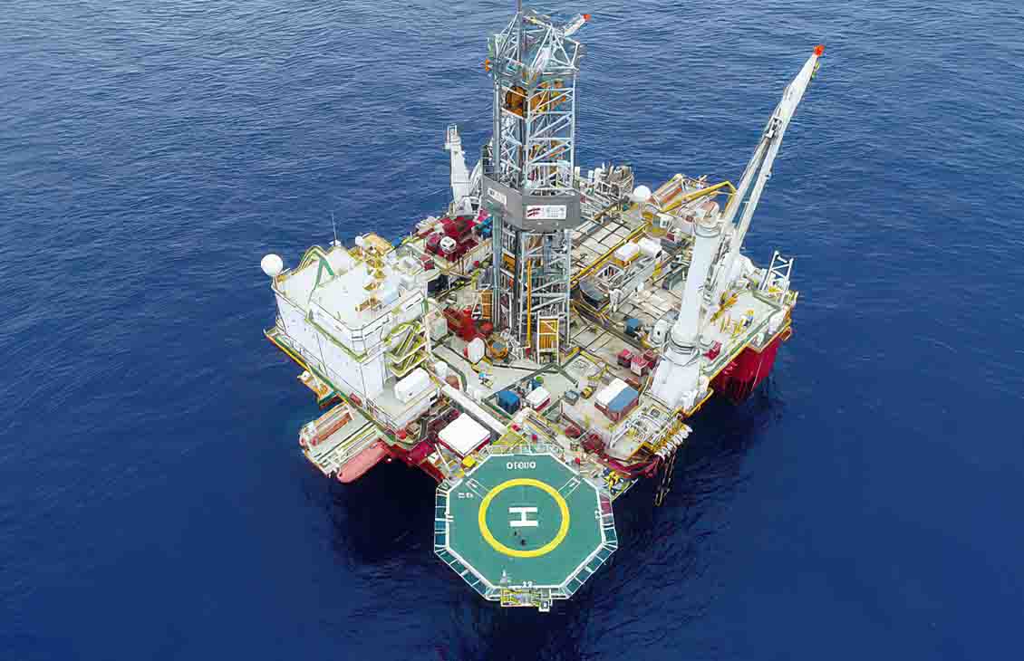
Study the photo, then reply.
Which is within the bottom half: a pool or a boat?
boat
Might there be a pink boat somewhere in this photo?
Yes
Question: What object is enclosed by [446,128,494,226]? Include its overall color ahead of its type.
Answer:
white crane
